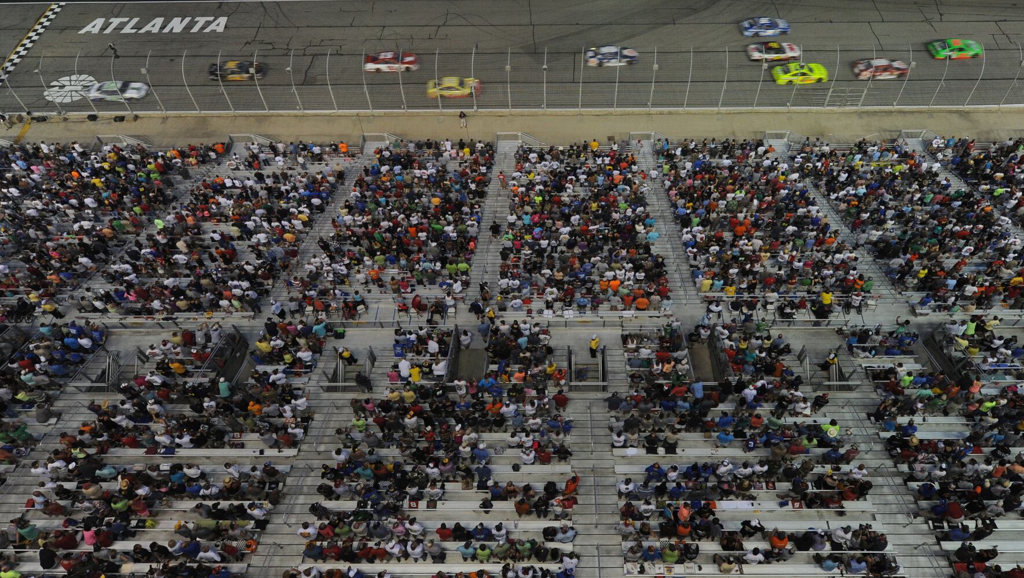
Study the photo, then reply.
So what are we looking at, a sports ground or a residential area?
sports ground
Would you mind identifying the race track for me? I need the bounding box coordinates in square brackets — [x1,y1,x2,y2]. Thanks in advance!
[0,0,1024,113]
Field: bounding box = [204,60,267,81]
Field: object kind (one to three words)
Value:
car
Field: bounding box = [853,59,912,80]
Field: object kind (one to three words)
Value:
car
